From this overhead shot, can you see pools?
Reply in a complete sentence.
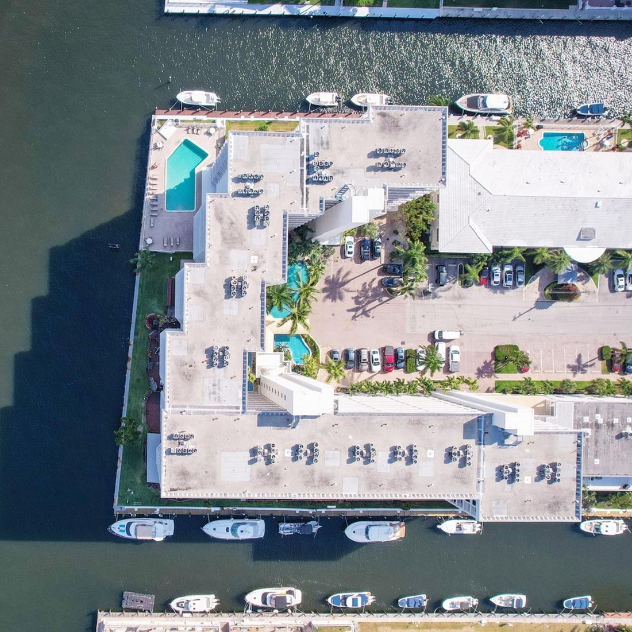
Yes, this view includes a pool.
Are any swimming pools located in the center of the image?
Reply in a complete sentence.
Yes, a swimming pool appears in the center of the image.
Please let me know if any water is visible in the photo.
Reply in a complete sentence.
Yes, there's water in this view.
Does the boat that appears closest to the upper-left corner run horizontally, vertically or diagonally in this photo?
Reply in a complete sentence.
In this picture, the boat that appears closest to the upper-left corner is oriented horizontally.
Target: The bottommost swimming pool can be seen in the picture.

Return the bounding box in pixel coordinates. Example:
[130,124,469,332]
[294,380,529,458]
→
[272,333,311,364]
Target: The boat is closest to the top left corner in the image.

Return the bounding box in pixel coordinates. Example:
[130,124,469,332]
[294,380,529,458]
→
[176,86,221,106]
